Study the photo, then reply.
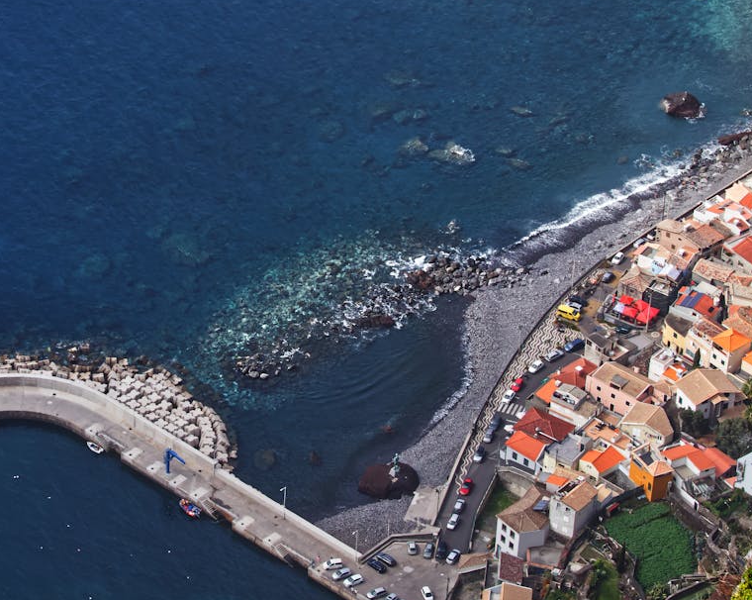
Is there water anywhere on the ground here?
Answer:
Yes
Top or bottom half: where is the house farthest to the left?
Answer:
bottom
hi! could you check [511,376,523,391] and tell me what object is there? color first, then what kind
red vehicle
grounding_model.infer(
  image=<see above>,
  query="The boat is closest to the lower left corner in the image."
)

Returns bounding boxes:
[85,444,103,457]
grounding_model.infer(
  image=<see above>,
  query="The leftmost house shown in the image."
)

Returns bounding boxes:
[457,550,496,578]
